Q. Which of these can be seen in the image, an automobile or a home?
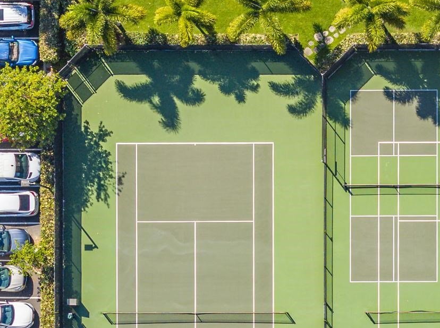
automobile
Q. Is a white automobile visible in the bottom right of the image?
No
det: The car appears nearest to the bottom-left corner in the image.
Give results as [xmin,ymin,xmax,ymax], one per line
[0,299,36,328]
